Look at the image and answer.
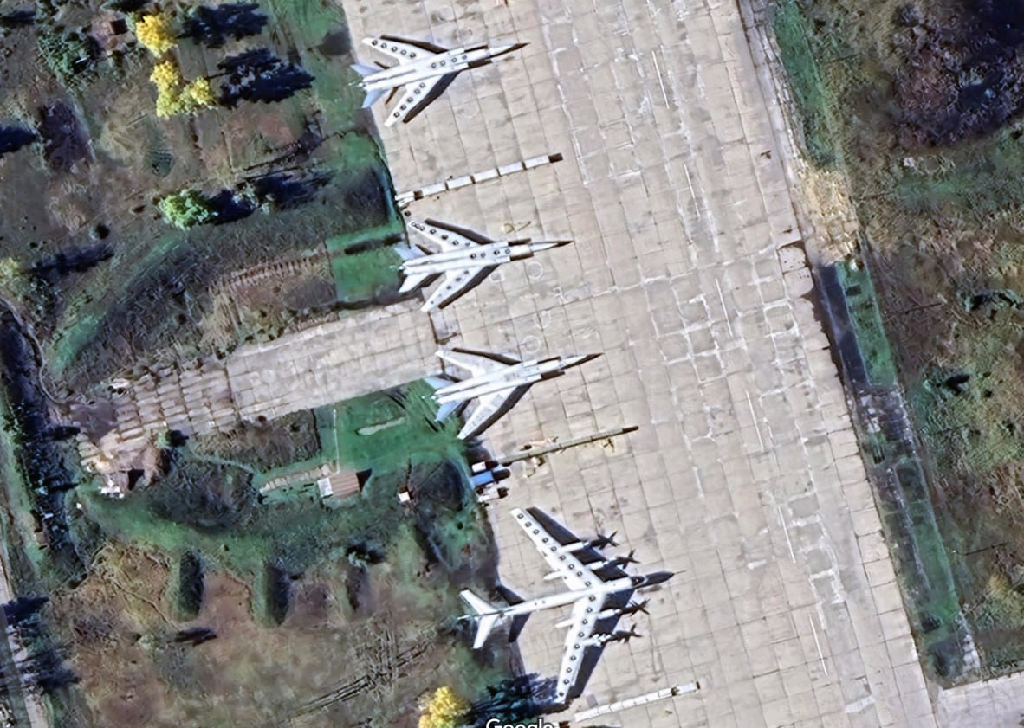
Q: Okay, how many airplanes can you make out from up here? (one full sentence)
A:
The number of airplanes here is 4.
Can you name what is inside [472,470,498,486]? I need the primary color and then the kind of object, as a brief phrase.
blue vehicle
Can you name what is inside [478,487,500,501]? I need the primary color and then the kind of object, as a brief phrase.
white vehicle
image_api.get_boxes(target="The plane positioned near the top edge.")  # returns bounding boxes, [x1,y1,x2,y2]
[351,36,511,125]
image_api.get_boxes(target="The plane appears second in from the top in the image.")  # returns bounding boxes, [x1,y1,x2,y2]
[390,220,555,311]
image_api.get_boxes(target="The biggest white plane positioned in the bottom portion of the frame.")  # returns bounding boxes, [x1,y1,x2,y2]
[461,510,660,703]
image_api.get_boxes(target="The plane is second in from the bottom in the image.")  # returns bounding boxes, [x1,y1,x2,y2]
[424,348,585,438]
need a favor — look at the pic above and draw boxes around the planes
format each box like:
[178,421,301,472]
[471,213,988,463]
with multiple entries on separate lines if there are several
[424,348,585,438]
[390,220,555,311]
[461,510,660,703]
[351,36,511,125]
